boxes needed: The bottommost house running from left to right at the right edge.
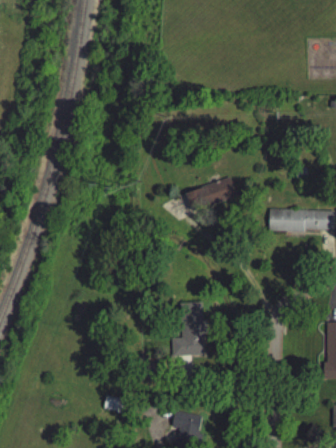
[269,208,335,232]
